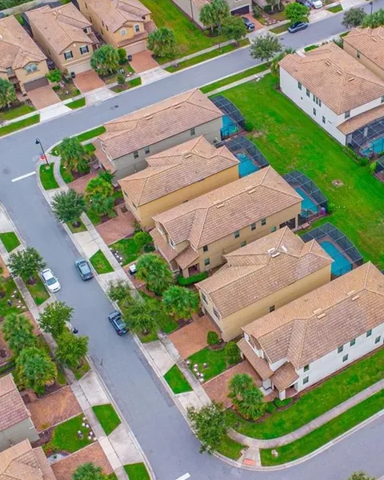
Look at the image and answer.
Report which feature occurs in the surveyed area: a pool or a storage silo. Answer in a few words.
pool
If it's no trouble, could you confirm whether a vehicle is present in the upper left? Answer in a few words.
No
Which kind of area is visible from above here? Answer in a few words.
residential area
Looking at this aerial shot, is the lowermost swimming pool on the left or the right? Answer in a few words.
right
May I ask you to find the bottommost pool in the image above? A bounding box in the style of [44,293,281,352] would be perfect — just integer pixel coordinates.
[328,251,352,277]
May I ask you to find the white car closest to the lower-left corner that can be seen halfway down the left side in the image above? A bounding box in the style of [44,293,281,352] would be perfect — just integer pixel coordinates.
[41,267,64,294]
